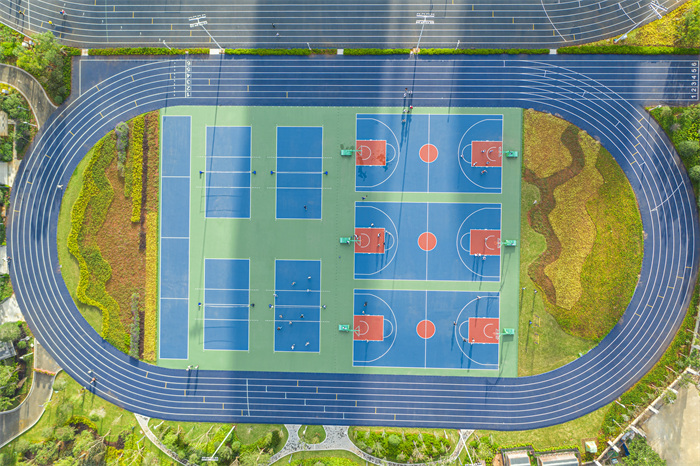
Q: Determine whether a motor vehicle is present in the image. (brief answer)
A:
No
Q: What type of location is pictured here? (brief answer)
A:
sports ground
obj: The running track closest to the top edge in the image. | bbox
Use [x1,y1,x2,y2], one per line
[0,0,679,49]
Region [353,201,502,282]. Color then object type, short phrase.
blue basketball court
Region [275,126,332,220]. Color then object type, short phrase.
blue sports court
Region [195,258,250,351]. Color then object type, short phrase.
blue sports court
